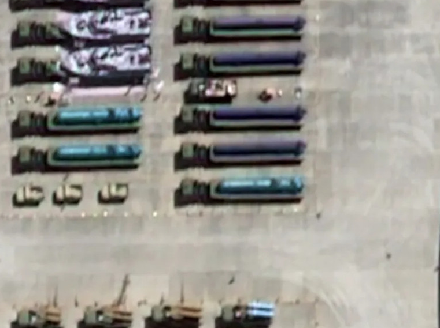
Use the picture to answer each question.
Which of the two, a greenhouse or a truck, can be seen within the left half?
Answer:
truck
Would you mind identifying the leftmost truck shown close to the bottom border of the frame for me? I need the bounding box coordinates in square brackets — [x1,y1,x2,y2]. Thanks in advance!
[15,300,66,328]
